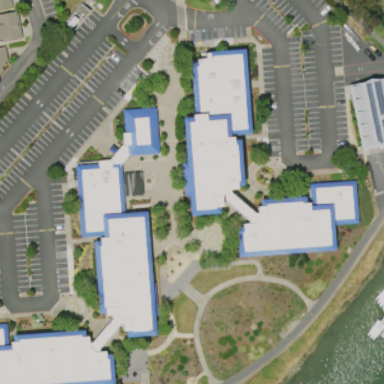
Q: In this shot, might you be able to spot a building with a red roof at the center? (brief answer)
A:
No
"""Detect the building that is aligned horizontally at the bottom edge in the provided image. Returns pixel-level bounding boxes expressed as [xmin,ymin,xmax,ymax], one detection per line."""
[0,330,116,384]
